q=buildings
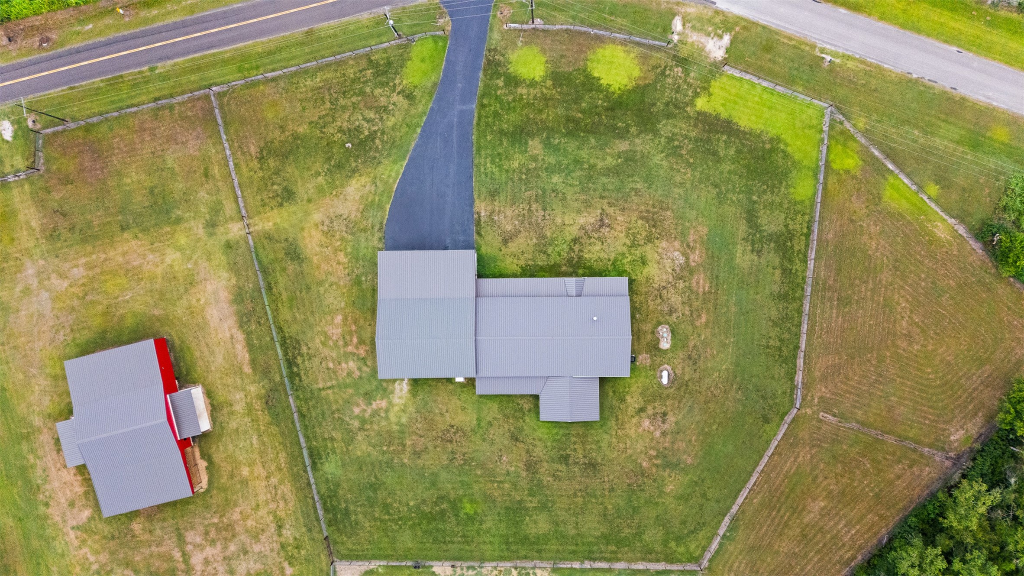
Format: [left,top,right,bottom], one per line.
[375,250,632,422]
[56,337,211,518]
